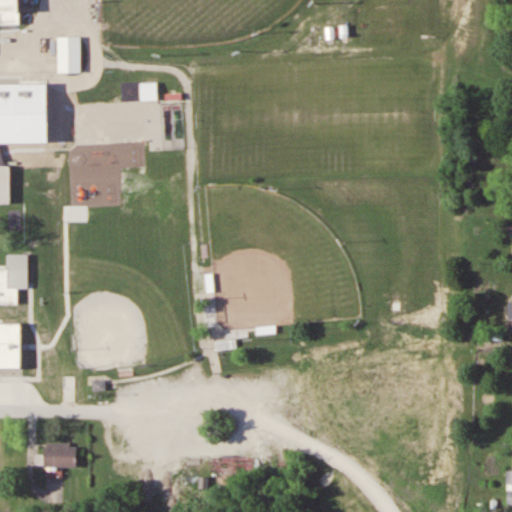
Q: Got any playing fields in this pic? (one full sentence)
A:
Yes, a playing field appears in the view.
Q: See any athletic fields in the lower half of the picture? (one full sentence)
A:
No, I can find no athletic field in the lower half of the picture.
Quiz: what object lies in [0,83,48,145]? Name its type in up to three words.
building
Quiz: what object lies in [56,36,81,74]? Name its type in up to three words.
barn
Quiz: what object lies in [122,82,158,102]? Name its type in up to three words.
shed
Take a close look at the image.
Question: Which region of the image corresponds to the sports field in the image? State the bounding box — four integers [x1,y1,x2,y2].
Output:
[197,55,442,180]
